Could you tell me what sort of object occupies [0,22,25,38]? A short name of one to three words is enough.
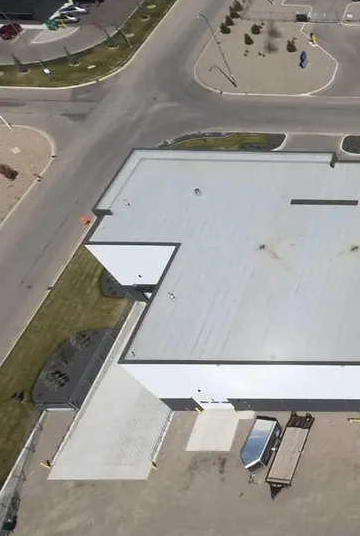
car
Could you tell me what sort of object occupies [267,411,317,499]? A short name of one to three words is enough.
trailer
